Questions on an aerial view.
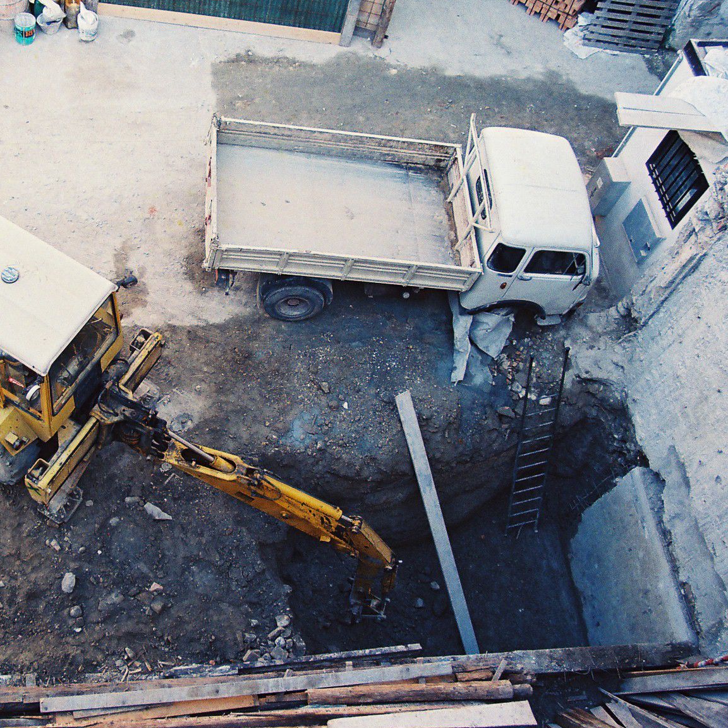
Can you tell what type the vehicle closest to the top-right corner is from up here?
truck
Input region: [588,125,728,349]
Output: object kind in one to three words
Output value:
shed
